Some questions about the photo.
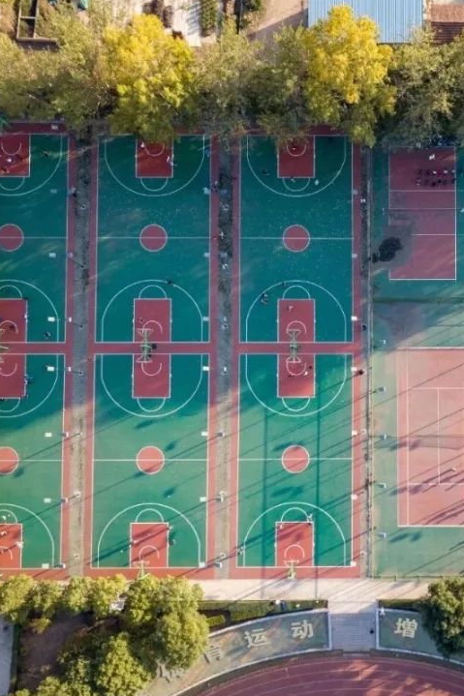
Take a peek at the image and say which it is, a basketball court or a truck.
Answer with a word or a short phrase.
basketball court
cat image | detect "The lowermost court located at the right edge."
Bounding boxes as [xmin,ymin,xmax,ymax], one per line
[398,346,464,527]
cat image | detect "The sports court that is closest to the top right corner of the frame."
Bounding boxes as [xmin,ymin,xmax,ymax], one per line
[375,146,457,279]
